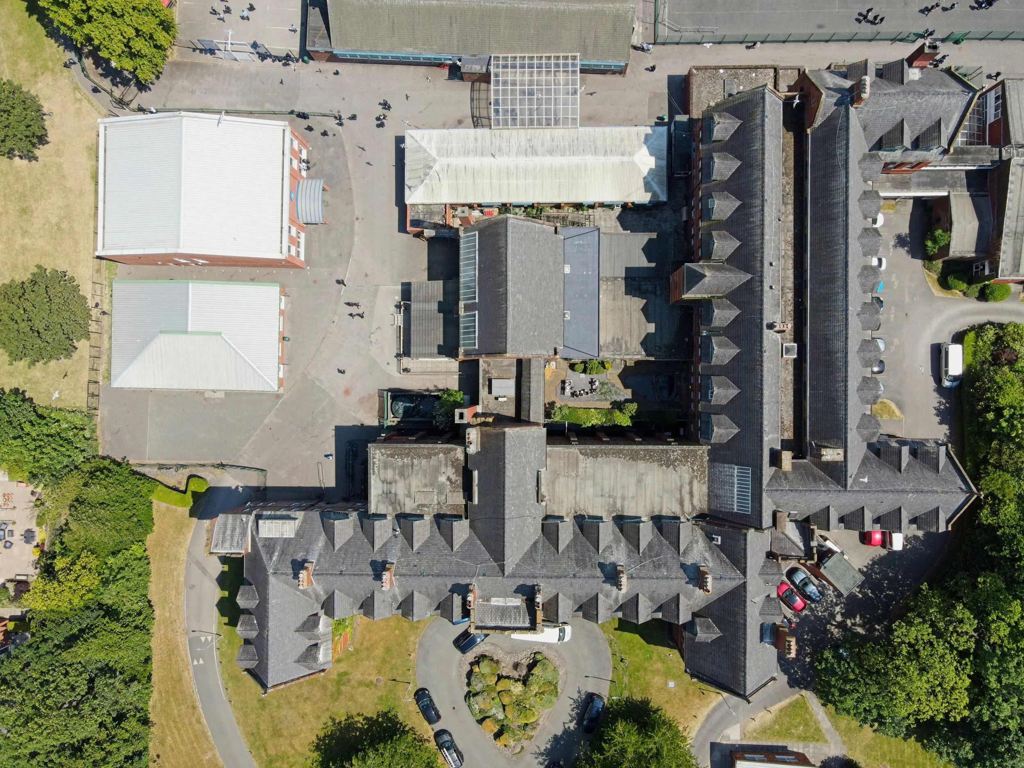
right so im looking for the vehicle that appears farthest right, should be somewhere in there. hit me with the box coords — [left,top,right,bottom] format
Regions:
[938,345,963,388]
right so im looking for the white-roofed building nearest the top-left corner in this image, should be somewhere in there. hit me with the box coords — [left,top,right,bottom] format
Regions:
[93,110,303,265]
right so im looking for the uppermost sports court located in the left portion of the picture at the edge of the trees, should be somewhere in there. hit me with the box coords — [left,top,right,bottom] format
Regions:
[177,0,301,56]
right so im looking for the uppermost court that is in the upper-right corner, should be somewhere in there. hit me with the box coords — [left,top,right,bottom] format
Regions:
[659,0,1024,40]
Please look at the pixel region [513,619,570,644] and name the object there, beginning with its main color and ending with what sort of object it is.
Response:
white vehicle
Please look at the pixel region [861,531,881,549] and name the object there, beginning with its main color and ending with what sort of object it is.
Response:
red car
